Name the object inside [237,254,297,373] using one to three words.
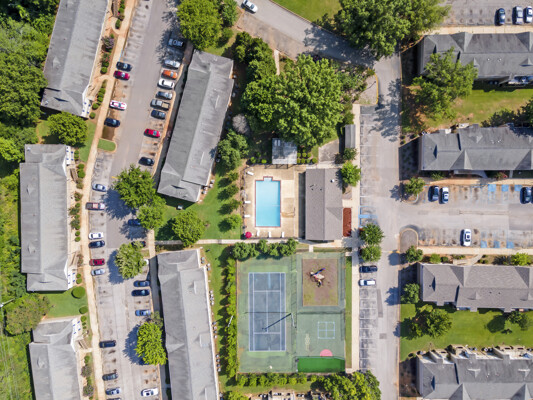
tennis court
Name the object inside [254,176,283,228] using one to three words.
swimming pool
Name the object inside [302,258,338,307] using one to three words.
playground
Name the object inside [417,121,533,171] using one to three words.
building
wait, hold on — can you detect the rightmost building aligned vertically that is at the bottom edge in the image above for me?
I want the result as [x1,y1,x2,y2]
[157,249,221,400]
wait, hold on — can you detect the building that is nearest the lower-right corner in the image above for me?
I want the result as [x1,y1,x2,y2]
[416,342,533,400]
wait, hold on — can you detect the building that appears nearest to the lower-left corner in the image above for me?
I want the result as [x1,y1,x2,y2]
[27,317,87,400]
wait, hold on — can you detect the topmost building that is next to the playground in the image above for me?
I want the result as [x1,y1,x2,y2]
[306,168,344,240]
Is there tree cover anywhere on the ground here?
Yes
